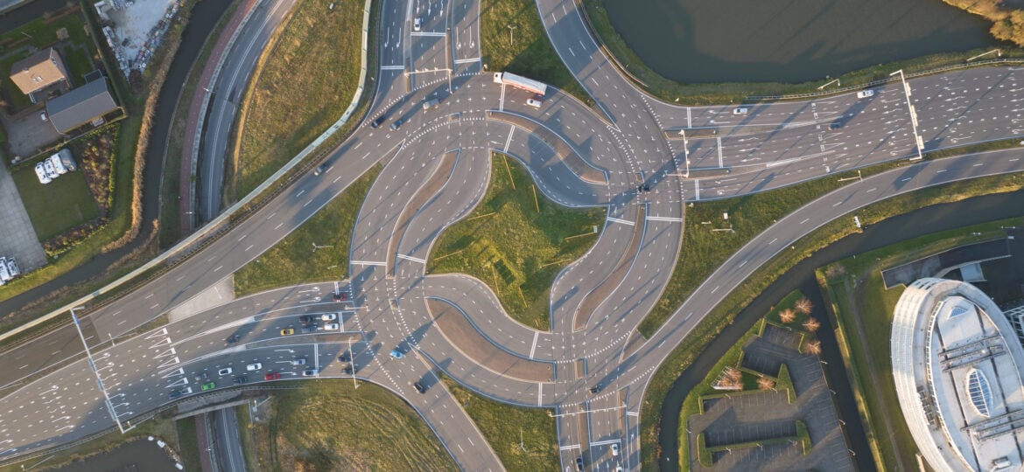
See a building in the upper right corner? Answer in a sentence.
No, I can find no building in the upper right corner.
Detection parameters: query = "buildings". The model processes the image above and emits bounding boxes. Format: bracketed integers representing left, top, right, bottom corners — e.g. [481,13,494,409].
[10,47,69,95]
[890,277,1024,472]
[45,77,117,134]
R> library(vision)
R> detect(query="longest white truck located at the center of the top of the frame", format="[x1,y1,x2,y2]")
[493,70,548,93]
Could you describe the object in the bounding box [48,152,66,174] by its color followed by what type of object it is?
white camper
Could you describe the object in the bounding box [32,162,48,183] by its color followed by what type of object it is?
white camper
